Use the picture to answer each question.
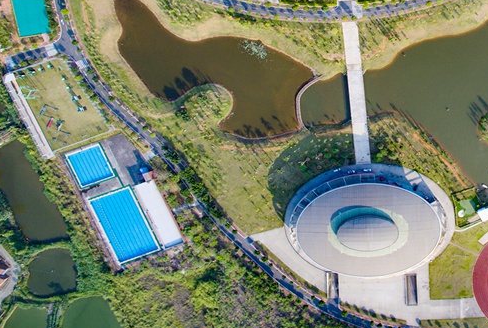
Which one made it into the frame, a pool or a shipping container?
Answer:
pool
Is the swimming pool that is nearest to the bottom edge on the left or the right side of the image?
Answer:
left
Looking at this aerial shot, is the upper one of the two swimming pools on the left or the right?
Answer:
left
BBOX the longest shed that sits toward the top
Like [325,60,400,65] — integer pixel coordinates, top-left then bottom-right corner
[4,76,57,159]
